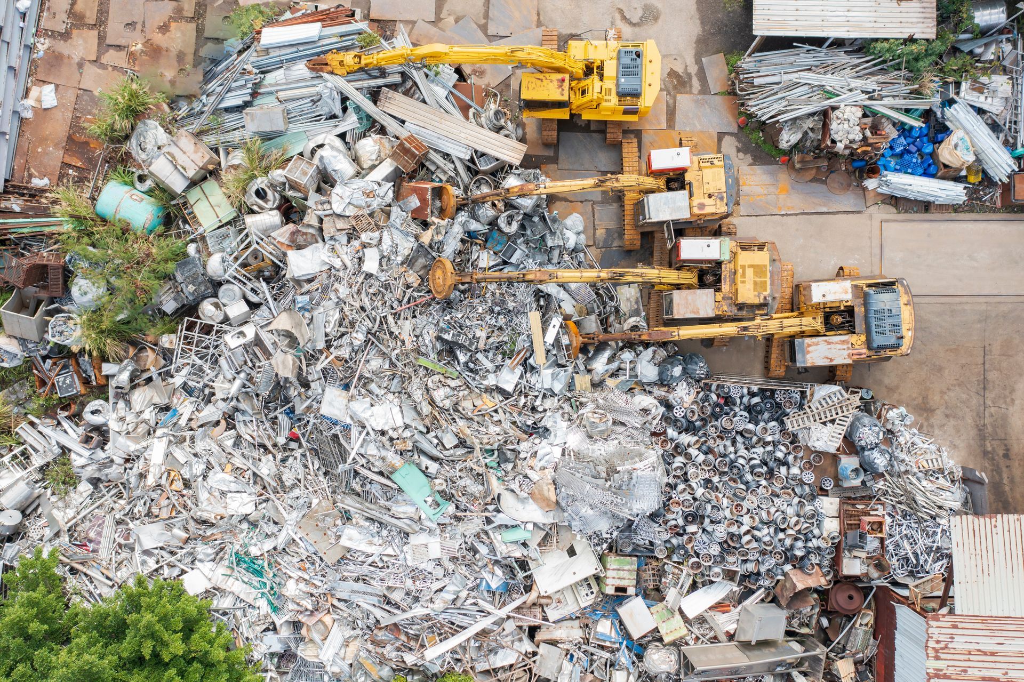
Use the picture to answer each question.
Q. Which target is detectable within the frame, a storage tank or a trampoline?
storage tank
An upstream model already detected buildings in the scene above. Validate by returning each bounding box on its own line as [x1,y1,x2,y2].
[950,514,1024,617]
[925,614,1024,682]
[730,0,937,38]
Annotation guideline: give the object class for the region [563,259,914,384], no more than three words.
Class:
work vehicle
